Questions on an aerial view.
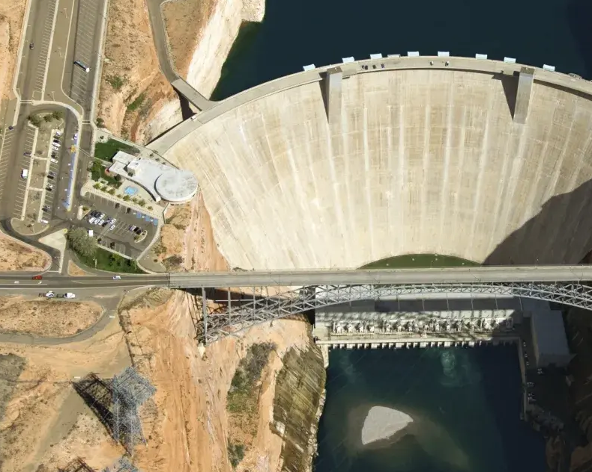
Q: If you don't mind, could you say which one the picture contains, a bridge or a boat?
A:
bridge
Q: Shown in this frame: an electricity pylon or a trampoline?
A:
electricity pylon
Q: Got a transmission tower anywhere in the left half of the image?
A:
Yes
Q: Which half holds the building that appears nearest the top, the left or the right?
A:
left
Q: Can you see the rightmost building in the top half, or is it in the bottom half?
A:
bottom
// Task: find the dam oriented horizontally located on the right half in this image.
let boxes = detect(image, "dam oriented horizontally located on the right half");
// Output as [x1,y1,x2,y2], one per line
[150,50,592,268]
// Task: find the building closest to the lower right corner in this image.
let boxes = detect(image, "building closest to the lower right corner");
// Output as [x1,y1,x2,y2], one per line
[529,310,574,384]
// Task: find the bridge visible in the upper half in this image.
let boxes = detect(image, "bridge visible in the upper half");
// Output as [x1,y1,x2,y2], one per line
[170,76,214,116]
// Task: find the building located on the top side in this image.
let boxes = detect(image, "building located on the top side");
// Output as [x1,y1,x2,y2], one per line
[108,151,198,208]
